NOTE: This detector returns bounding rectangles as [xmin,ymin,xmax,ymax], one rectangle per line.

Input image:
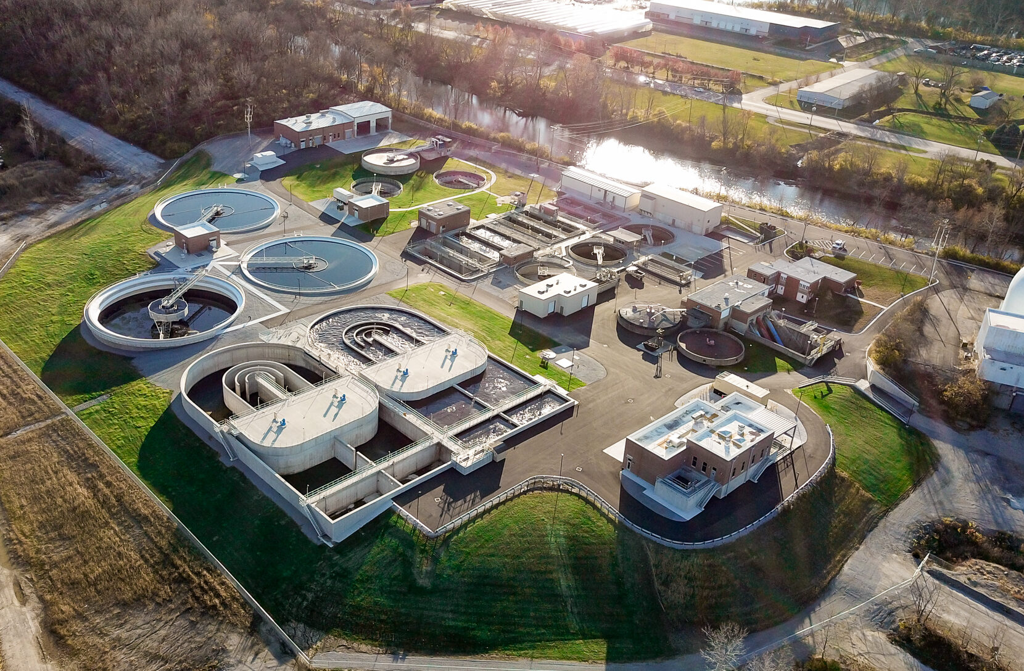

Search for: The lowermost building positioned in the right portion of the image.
[622,393,797,509]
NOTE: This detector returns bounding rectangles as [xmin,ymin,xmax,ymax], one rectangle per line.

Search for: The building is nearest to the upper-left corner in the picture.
[173,220,221,253]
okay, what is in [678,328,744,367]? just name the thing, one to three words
storage tank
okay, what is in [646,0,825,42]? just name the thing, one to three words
building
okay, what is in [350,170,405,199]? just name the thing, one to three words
storage tank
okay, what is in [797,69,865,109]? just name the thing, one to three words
shed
